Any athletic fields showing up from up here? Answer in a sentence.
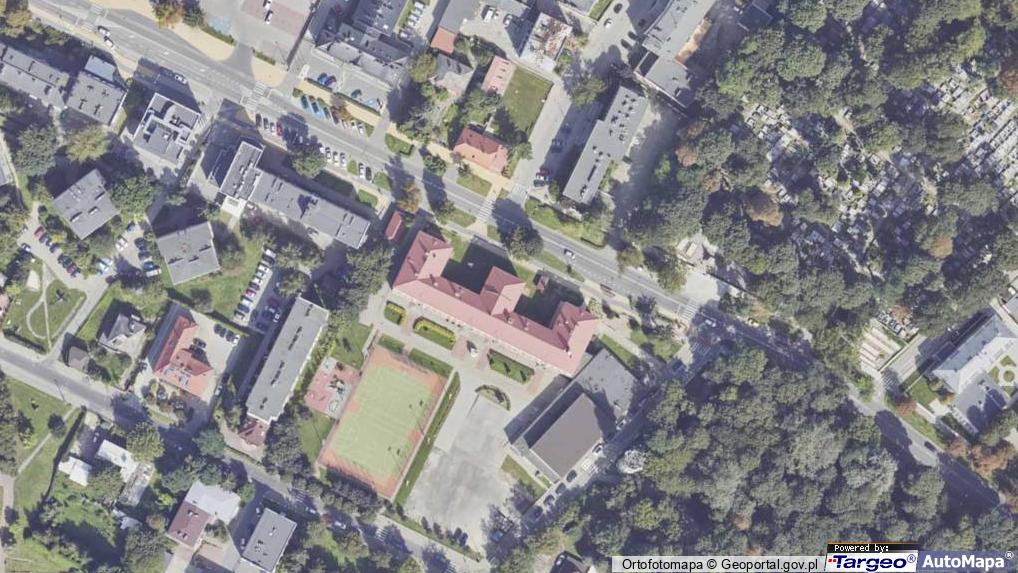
Yes, there is an athletic field in the image.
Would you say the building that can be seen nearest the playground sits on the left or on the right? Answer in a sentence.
You can find the building that can be seen nearest the playground on the left side of the picture.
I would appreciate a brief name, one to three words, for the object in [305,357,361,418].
playground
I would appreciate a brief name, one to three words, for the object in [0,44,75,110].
building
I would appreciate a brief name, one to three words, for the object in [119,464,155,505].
shed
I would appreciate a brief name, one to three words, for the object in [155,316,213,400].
house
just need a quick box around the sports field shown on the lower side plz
[329,359,437,487]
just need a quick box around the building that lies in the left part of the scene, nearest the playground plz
[246,296,330,424]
